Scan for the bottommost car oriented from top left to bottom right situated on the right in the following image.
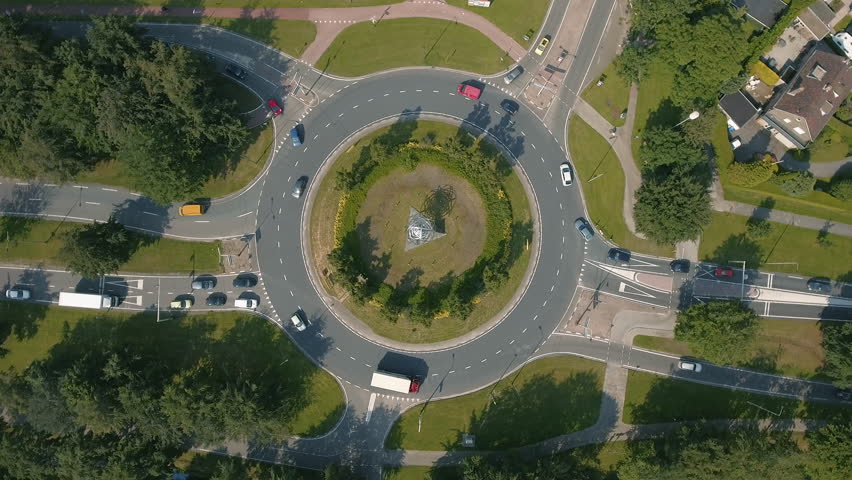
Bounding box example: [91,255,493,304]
[573,218,594,240]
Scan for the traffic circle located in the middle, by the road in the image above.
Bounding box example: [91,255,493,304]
[257,72,582,396]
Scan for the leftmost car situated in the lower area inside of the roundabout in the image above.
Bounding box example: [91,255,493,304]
[289,310,308,331]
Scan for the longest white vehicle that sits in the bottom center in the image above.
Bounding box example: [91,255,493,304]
[369,370,422,396]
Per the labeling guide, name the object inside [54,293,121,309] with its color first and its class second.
white vehicle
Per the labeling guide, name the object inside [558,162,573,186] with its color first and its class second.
white car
